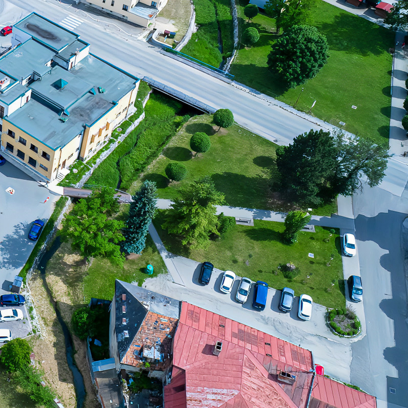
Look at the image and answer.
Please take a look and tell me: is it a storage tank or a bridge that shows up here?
bridge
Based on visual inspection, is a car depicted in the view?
Yes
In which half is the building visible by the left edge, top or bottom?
top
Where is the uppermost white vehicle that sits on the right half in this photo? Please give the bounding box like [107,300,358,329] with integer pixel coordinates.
[341,233,358,259]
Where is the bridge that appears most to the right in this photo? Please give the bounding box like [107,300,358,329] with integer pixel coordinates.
[142,36,236,113]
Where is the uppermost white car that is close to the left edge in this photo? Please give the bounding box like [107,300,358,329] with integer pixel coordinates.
[0,308,25,324]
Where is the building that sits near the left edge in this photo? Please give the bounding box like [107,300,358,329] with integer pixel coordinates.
[0,10,140,183]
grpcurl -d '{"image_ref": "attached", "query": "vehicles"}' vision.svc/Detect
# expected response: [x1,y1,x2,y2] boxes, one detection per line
[0,328,13,343]
[198,259,214,287]
[0,308,25,324]
[346,274,366,303]
[341,233,358,259]
[218,268,237,296]
[235,276,252,304]
[252,280,272,312]
[0,154,8,165]
[28,217,45,243]
[0,25,13,36]
[0,293,27,309]
[279,286,295,313]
